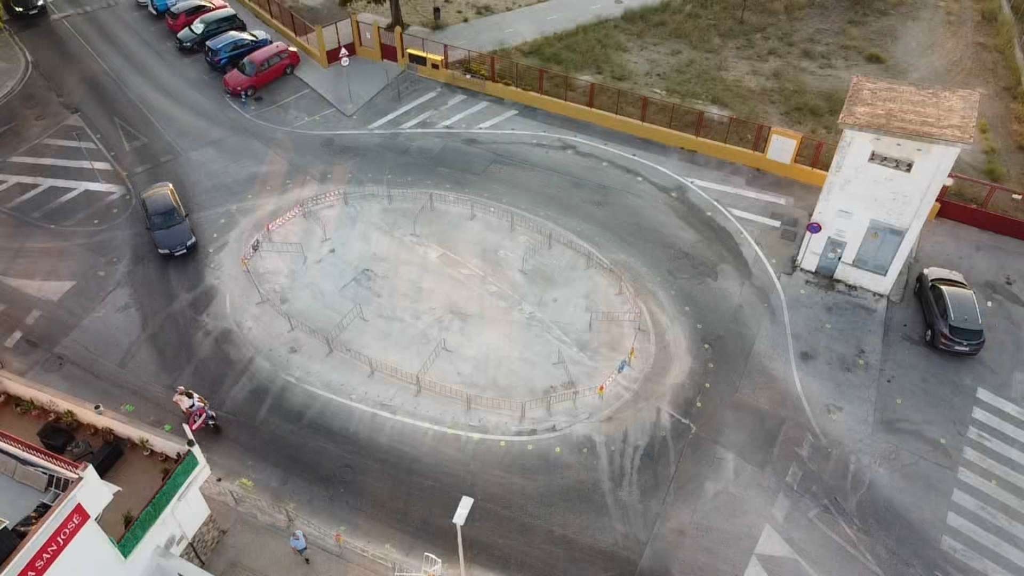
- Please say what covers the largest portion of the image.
paved ground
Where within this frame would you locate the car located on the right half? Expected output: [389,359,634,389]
[913,268,989,360]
